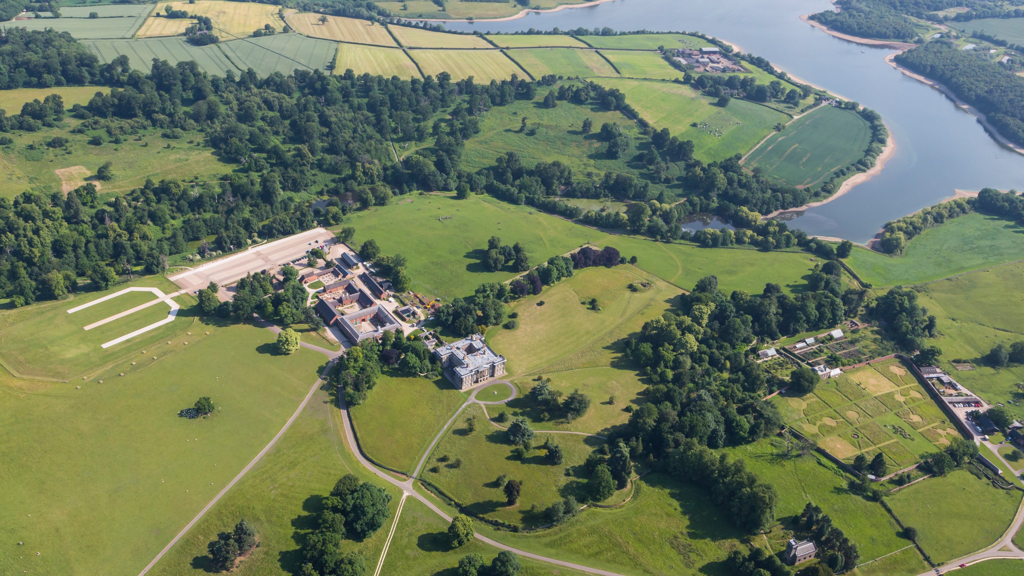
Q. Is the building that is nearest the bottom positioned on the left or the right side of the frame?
right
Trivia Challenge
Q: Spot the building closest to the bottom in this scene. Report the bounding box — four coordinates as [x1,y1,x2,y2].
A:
[780,539,817,566]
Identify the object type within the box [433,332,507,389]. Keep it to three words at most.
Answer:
house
